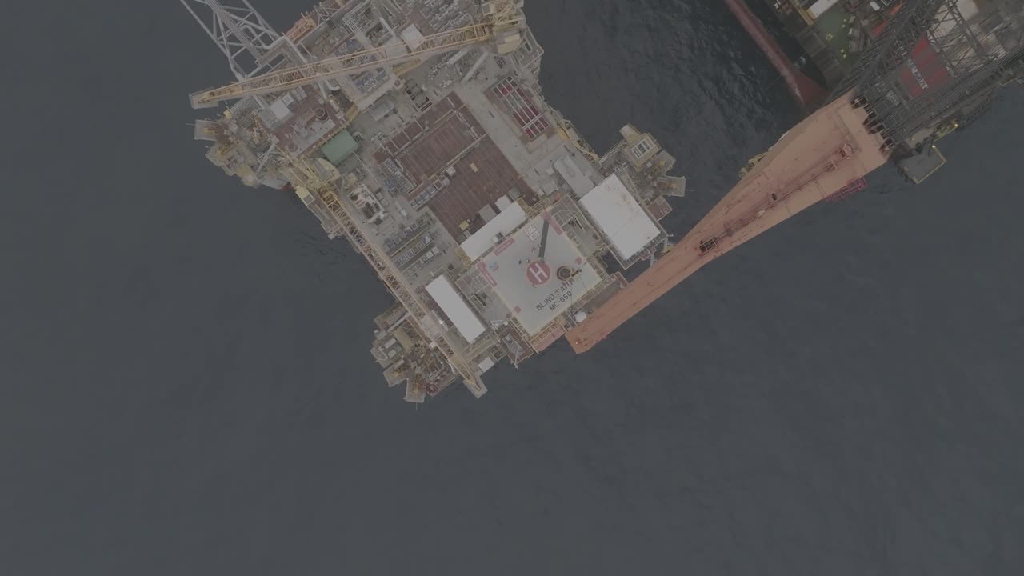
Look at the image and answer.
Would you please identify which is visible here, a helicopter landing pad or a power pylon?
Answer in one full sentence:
There is a helicopter landing pad in the scene.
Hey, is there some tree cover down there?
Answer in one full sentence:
No, tree cover can't be seen anywhere here.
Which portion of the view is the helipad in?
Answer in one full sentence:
You can find the helipad in the center area of the picture.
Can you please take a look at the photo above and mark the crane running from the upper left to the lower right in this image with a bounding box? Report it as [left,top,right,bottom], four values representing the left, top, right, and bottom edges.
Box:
[274,151,477,389]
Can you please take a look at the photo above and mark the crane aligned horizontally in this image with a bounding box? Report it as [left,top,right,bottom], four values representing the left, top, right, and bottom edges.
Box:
[195,0,525,104]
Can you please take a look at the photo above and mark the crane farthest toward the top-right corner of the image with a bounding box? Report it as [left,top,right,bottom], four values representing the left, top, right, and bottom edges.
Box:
[565,0,1024,353]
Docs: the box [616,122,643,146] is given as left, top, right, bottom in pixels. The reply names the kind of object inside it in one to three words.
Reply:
house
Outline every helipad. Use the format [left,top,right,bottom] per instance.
[471,204,608,341]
